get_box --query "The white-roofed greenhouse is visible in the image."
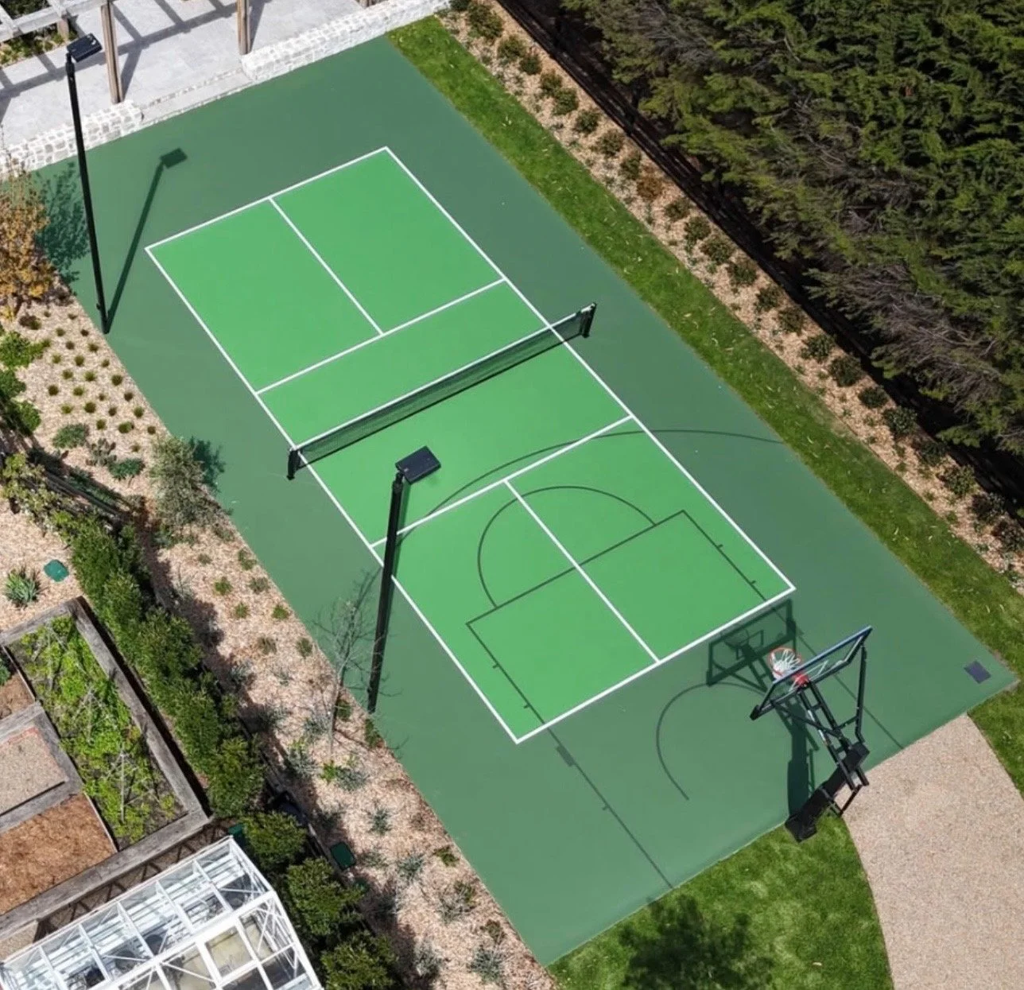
[0,837,324,990]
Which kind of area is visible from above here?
sports ground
